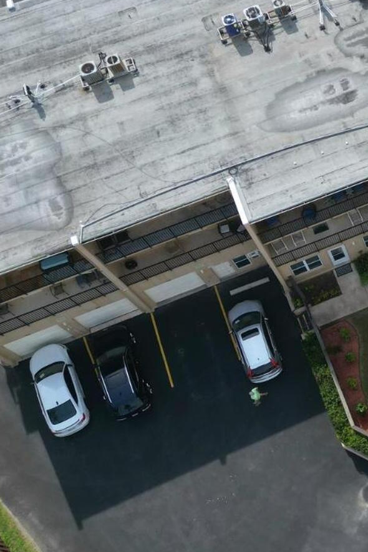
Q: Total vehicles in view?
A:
3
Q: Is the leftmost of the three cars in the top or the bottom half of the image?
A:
bottom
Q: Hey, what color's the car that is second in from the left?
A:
black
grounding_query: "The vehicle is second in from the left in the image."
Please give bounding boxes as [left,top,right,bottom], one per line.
[93,328,150,425]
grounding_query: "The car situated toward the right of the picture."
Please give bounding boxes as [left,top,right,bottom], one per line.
[230,296,283,390]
